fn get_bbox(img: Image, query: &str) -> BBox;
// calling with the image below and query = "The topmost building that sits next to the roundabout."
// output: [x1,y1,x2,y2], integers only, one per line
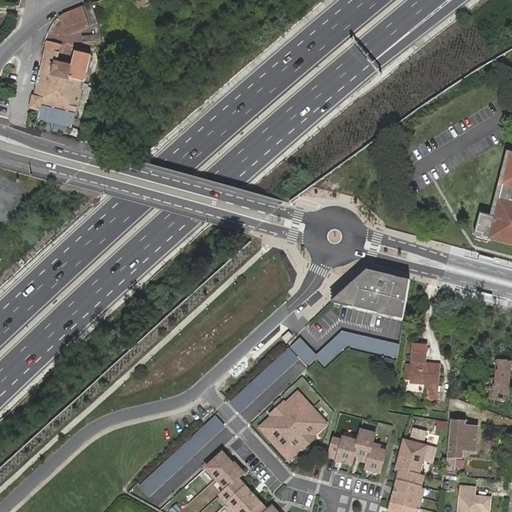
[332,268,411,323]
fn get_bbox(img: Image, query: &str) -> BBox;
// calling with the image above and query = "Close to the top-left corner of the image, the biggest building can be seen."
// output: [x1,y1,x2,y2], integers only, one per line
[28,40,83,110]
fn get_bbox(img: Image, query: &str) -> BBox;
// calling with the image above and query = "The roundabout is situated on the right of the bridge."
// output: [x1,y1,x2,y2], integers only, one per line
[303,206,366,268]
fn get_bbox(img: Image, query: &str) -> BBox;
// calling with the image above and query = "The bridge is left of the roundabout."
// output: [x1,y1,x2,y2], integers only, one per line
[89,160,256,230]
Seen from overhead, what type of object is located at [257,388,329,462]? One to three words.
house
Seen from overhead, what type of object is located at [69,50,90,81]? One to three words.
house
